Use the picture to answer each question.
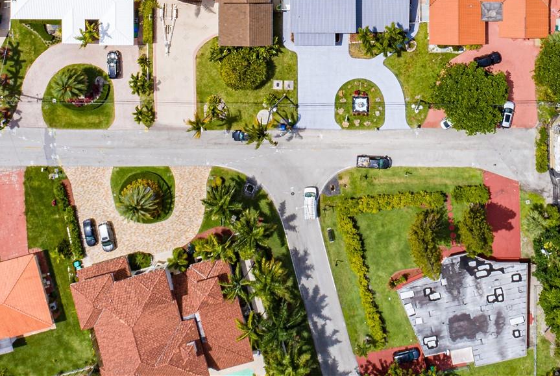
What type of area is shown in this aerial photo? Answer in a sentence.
The picture captures a residential area.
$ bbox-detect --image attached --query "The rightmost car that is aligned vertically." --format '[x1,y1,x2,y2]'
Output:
[499,100,514,130]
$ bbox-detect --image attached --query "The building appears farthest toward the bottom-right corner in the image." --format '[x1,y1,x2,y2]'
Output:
[397,248,532,367]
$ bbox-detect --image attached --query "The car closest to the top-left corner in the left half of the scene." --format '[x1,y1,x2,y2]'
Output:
[107,50,122,78]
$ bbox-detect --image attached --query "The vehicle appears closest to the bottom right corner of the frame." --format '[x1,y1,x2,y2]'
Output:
[391,346,420,363]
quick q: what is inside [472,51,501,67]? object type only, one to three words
car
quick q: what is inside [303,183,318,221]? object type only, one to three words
vehicle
